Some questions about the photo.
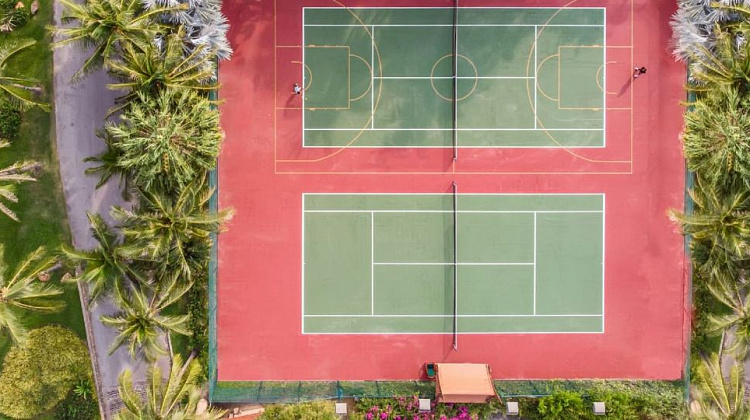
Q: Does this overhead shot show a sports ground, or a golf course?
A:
sports ground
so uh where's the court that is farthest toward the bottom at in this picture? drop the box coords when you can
[302,194,605,334]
